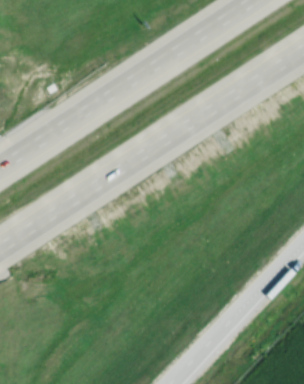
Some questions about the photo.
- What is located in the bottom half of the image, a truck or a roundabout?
truck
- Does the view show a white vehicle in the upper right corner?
No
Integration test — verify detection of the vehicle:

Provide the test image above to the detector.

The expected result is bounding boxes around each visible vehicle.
[266,262,298,300]
[106,171,118,181]
[0,160,9,168]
